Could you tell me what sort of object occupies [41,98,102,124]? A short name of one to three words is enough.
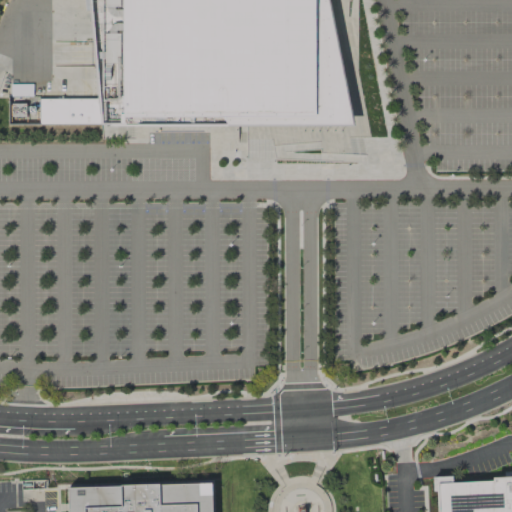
shed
